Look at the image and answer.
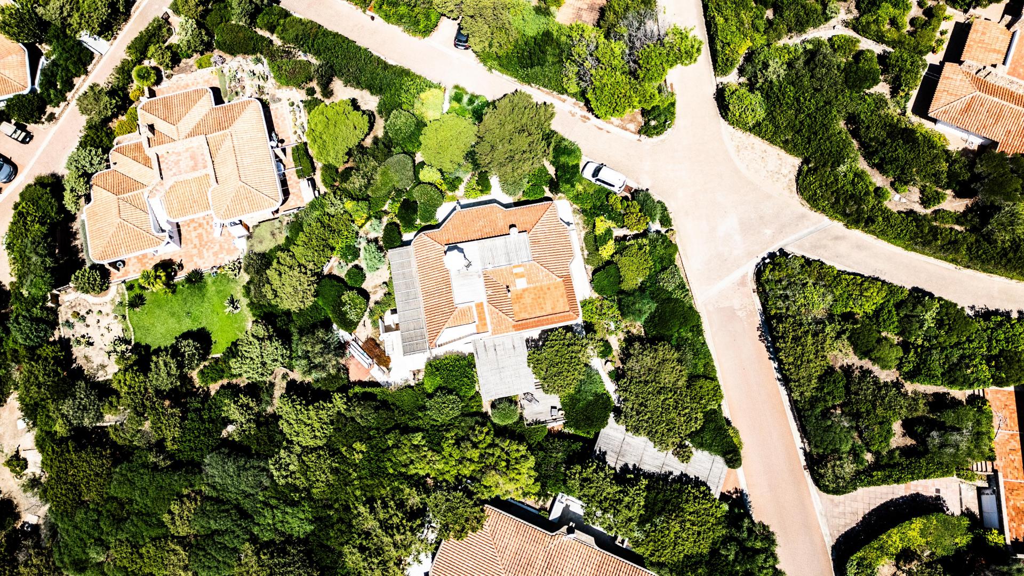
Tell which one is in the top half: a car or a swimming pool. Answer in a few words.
car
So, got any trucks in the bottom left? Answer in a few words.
No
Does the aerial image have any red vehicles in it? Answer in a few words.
No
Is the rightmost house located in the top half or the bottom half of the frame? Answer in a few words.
top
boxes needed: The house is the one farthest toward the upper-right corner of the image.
[916,0,1024,157]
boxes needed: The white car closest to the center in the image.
[581,160,629,194]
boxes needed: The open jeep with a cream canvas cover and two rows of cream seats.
[0,117,34,149]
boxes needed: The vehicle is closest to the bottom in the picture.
[979,487,1009,527]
